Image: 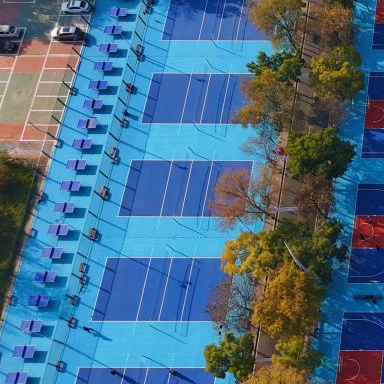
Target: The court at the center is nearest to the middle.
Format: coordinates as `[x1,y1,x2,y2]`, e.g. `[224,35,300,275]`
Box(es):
[118,149,251,228]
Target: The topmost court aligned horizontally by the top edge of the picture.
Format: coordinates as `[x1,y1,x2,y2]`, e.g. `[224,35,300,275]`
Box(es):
[162,0,277,49]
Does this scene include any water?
No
